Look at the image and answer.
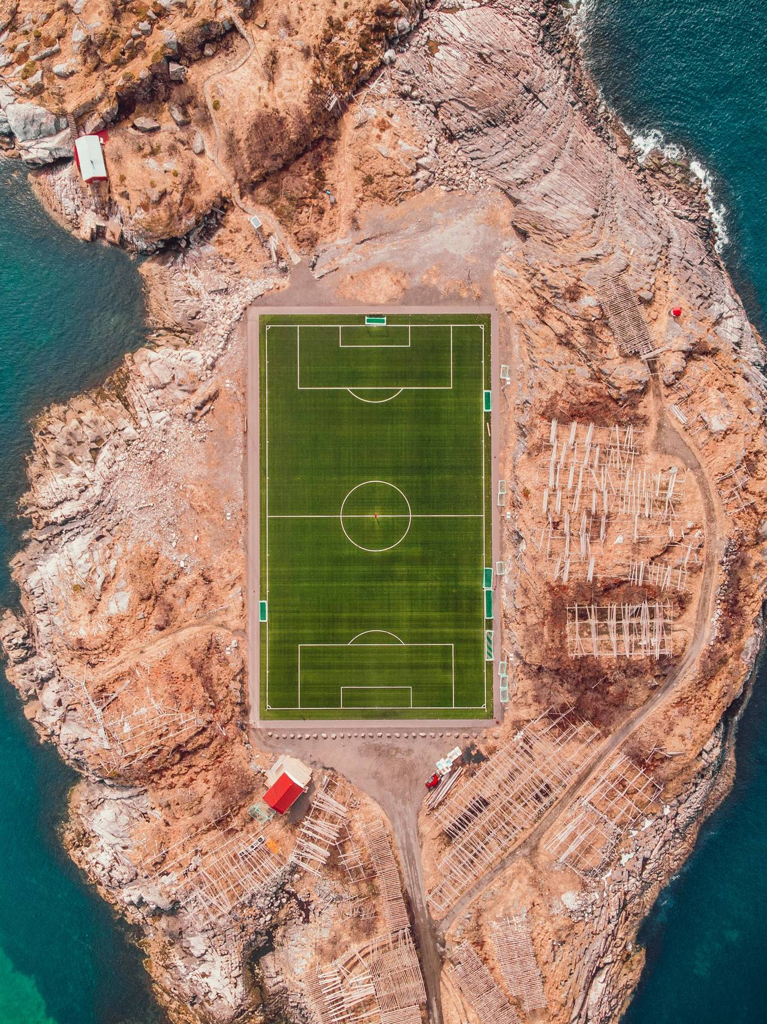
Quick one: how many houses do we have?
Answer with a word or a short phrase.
two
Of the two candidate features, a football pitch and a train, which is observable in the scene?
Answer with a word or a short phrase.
football pitch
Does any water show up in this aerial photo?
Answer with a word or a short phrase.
Yes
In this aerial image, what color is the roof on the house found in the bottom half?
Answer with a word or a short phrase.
red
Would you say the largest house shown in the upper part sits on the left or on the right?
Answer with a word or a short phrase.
left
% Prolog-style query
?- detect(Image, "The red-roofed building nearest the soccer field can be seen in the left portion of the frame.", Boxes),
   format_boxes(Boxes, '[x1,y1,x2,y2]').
[263,770,304,815]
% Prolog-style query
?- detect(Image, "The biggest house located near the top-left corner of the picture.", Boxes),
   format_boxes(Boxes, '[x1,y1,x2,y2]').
[76,136,109,190]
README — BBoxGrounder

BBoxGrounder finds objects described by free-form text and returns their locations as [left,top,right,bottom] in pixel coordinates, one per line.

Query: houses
[76,136,109,190]
[263,770,304,815]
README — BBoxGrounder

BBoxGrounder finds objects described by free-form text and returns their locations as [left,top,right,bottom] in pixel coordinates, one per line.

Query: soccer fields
[258,315,493,720]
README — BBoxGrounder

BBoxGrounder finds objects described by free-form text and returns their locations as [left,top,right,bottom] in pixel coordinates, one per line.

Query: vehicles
[425,772,439,785]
